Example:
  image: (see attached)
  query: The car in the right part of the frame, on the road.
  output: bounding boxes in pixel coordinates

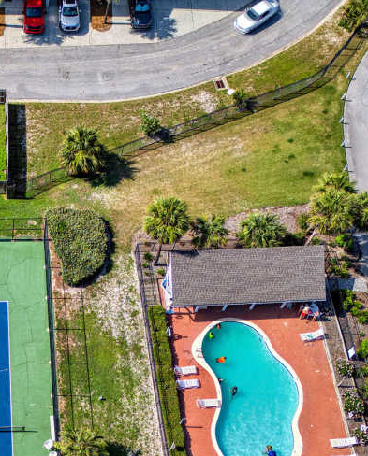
[232,0,275,32]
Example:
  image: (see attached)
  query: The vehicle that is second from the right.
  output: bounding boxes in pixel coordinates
[127,0,151,28]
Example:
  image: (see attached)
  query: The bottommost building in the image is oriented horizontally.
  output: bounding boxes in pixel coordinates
[163,242,327,321]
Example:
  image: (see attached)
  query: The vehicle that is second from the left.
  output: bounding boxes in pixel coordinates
[58,0,81,31]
